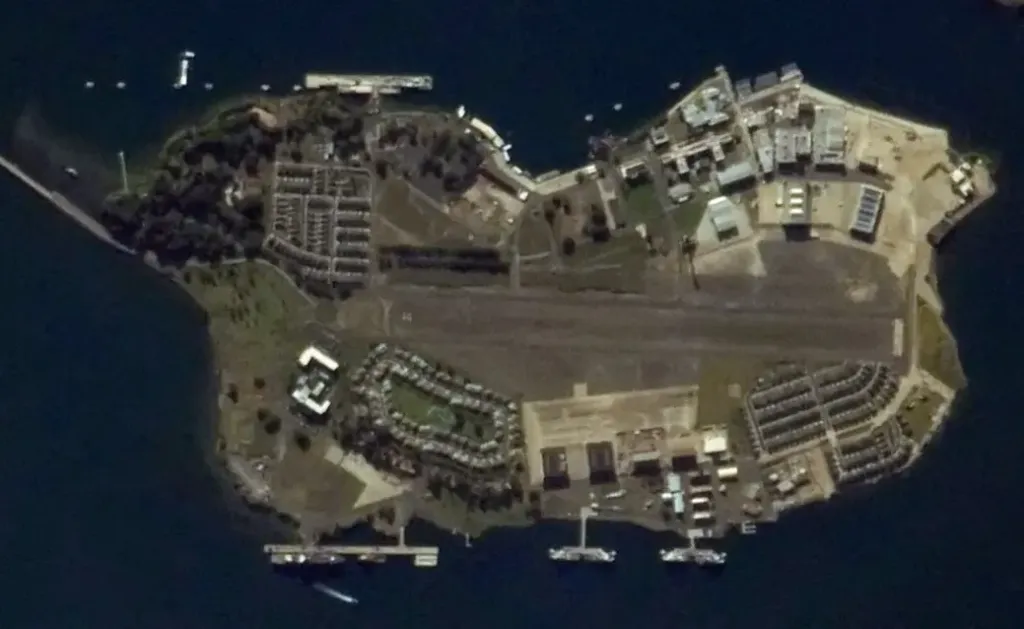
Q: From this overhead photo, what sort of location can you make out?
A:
port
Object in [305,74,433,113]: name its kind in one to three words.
pier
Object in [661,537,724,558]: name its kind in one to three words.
pier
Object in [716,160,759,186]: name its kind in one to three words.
building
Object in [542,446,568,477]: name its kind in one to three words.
hangar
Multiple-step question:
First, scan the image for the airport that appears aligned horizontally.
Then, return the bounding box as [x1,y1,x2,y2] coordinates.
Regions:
[388,242,906,360]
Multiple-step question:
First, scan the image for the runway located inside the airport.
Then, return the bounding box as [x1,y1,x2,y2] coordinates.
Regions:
[388,292,904,360]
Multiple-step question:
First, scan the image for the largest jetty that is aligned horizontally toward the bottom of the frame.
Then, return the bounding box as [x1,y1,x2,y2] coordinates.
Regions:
[264,526,437,566]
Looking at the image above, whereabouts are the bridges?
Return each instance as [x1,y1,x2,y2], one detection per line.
[0,156,138,255]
